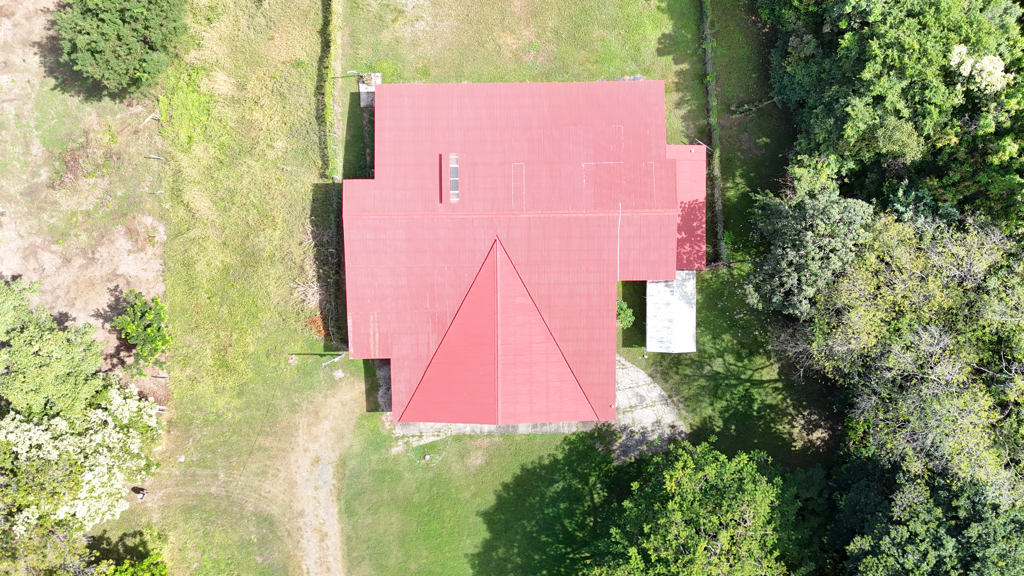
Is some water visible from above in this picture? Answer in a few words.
No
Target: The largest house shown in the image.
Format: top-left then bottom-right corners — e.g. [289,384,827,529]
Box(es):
[341,80,706,425]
